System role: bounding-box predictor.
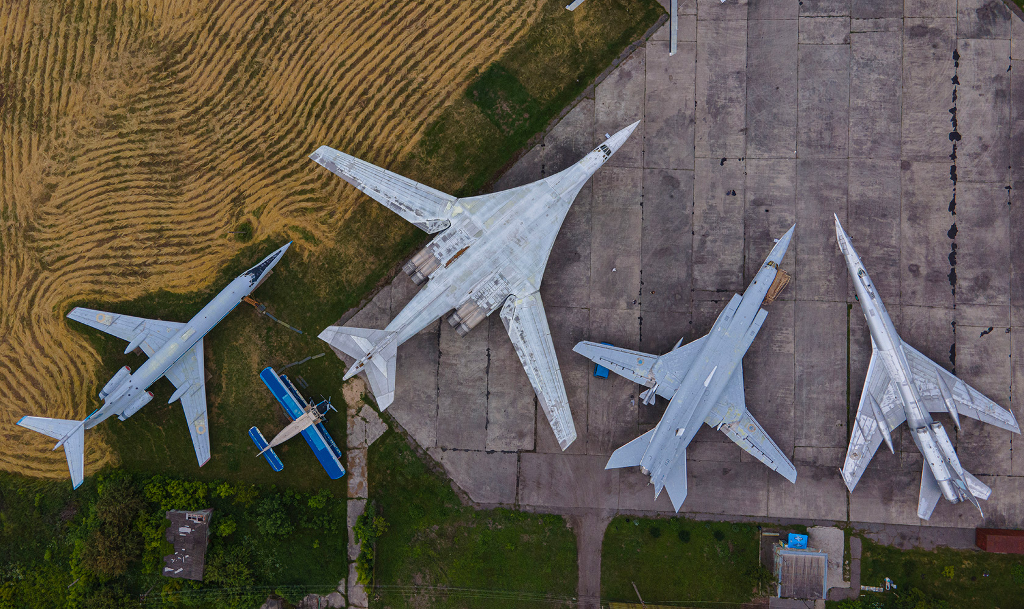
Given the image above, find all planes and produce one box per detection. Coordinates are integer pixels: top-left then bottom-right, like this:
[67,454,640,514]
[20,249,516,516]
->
[834,213,1021,524]
[17,241,292,490]
[309,120,640,451]
[572,223,797,513]
[249,366,345,479]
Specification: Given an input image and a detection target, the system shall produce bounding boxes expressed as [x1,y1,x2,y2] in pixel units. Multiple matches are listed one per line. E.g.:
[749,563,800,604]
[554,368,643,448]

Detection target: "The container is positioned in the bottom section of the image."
[975,529,1024,555]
